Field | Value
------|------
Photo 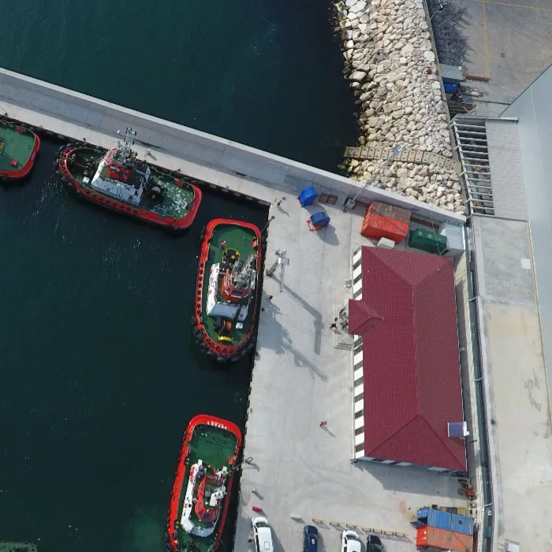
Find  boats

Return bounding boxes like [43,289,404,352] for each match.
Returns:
[194,222,264,363]
[0,125,41,182]
[0,541,37,552]
[54,135,200,232]
[167,415,240,552]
